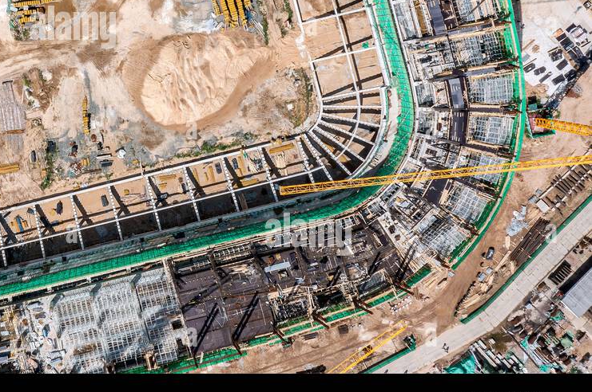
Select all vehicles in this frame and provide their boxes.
[485,245,497,262]
[569,23,592,44]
